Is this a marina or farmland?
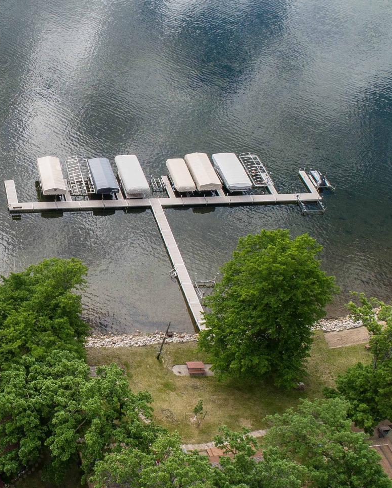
marina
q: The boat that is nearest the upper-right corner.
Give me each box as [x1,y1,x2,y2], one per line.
[311,174,331,189]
